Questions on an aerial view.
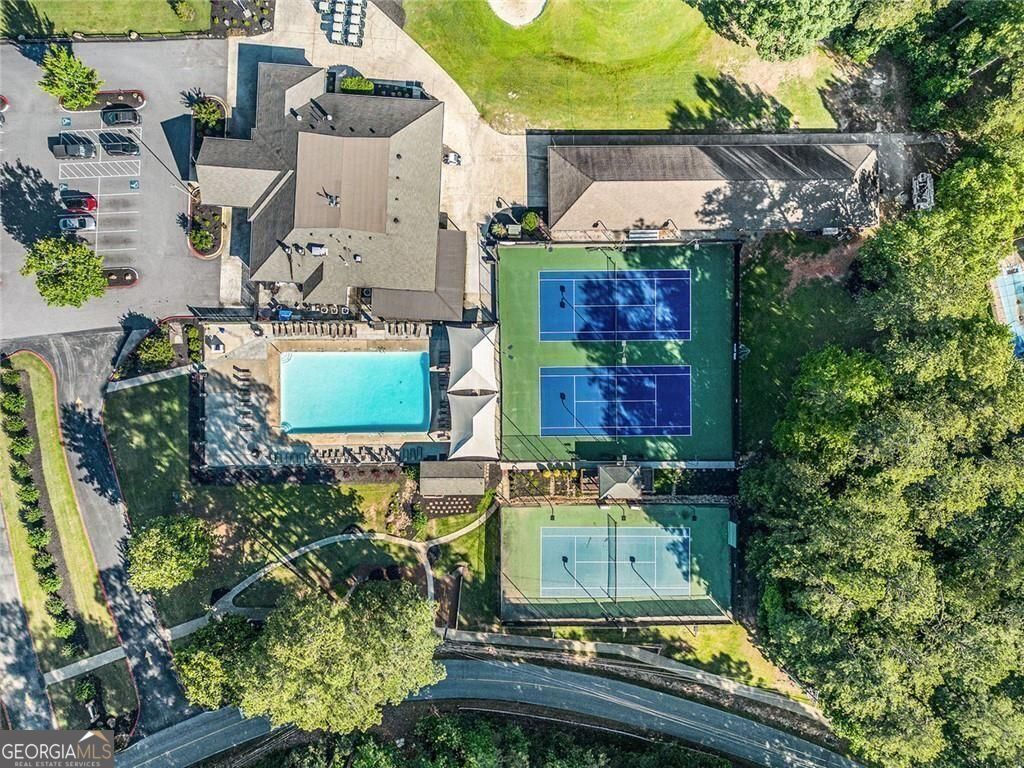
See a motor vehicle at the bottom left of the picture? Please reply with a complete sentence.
No, no motor vehicle appears at the bottom left of the picture.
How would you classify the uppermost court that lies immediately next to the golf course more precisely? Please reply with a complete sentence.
I'd identify the uppermost court that lies immediately next to the golf course as a tennis court.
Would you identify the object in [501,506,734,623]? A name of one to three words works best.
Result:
tennis court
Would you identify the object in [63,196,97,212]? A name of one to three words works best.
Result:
car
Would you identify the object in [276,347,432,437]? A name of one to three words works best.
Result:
swimming pool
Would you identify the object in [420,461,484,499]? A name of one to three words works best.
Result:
building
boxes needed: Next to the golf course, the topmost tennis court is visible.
[498,245,735,353]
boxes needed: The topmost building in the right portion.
[549,144,880,231]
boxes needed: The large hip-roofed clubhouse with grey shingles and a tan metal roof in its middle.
[196,62,466,321]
